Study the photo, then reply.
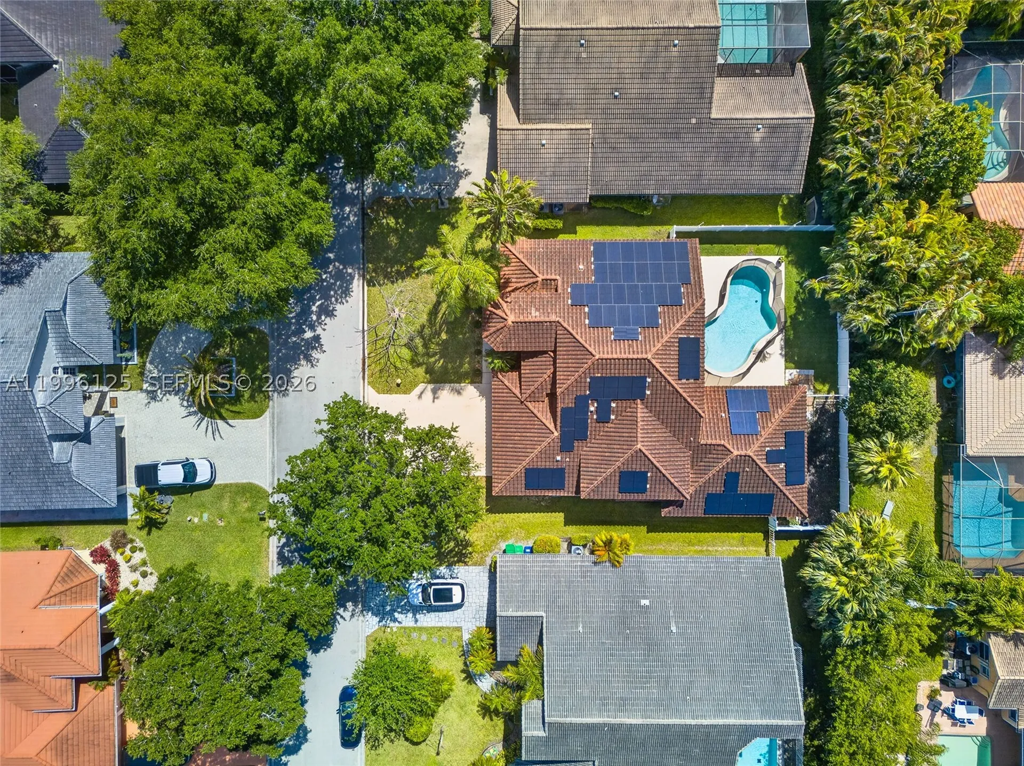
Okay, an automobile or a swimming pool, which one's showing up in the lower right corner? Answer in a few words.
swimming pool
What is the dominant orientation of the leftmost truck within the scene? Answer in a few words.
horizontally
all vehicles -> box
[134,456,219,489]
[335,684,366,751]
[407,578,468,611]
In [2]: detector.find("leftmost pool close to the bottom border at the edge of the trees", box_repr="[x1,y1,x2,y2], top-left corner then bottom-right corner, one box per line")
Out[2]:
[738,739,794,766]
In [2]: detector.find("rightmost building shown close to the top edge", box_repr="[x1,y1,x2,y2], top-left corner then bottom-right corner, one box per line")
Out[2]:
[490,0,817,205]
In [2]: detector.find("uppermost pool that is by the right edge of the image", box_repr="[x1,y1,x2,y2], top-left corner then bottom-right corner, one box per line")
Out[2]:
[953,61,1016,183]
